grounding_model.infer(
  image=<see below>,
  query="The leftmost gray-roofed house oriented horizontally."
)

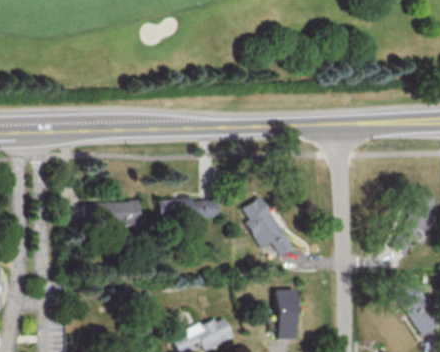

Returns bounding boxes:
[83,200,144,228]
